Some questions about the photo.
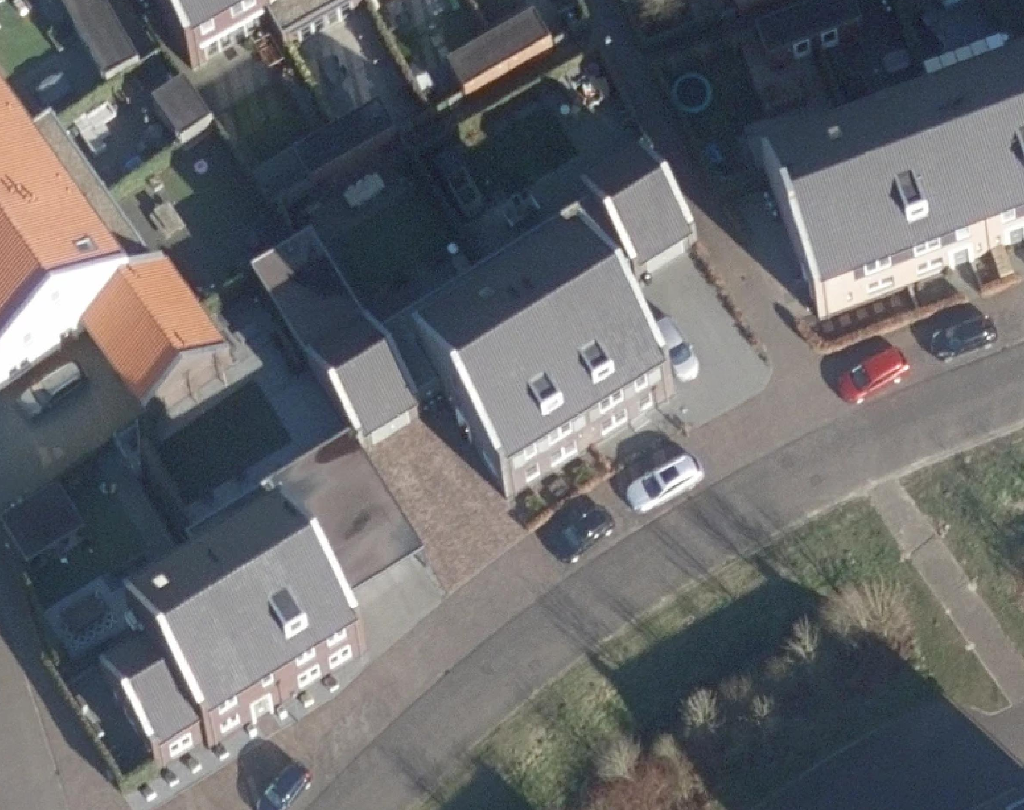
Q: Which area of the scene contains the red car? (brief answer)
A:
right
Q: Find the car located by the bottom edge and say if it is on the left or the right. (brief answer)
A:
left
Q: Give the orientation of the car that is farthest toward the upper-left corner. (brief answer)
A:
diagonally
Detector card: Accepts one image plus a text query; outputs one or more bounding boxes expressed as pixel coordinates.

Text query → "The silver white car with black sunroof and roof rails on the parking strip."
[627,452,707,518]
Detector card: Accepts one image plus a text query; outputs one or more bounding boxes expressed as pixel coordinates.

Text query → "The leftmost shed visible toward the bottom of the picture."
[3,484,83,572]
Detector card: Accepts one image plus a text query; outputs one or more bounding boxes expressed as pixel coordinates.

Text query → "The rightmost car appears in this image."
[926,309,1004,365]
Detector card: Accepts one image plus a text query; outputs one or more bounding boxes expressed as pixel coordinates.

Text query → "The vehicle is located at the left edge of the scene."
[16,356,92,421]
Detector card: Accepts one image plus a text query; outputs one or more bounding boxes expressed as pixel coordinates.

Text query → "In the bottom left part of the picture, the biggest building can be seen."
[121,483,367,751]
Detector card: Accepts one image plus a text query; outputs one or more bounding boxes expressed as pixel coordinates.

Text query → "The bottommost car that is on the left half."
[250,763,319,810]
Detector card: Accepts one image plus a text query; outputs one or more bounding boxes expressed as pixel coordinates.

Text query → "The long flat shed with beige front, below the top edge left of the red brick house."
[66,0,139,85]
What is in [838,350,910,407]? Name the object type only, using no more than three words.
car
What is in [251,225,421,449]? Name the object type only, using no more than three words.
building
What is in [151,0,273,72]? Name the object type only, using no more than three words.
house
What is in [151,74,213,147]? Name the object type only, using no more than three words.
shed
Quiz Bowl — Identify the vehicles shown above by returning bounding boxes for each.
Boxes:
[838,350,910,407]
[652,312,698,386]
[926,309,1004,365]
[250,763,319,810]
[16,356,92,421]
[545,502,618,565]
[627,452,707,518]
